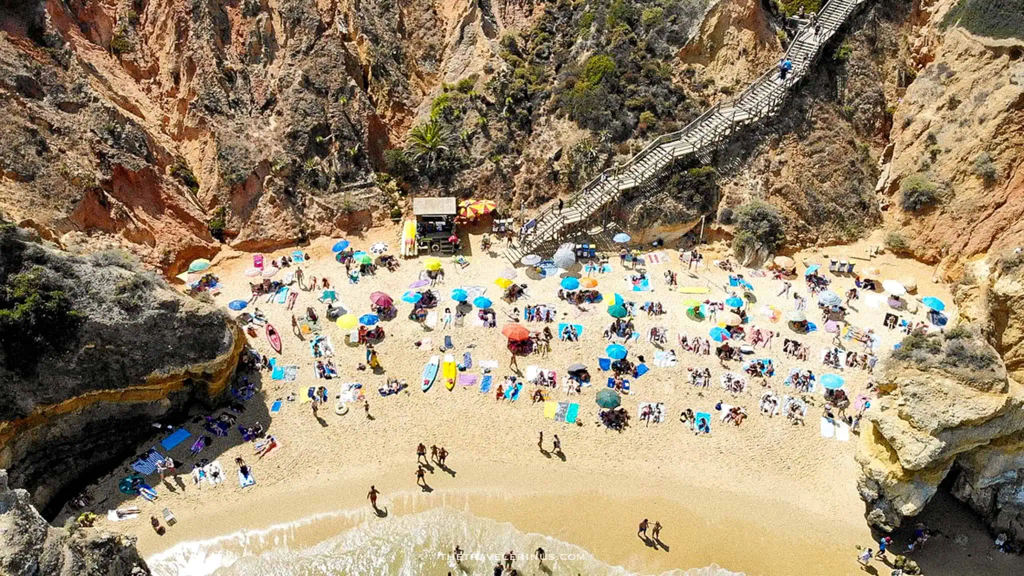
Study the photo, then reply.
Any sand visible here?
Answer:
Yes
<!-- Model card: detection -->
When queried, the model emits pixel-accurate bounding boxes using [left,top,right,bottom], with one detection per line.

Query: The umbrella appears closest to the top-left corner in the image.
[193,256,212,287]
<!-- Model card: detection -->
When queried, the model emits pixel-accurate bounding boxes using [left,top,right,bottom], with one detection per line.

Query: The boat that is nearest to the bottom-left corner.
[263,320,283,352]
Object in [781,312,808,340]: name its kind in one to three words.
umbrella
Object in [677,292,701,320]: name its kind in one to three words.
umbrella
